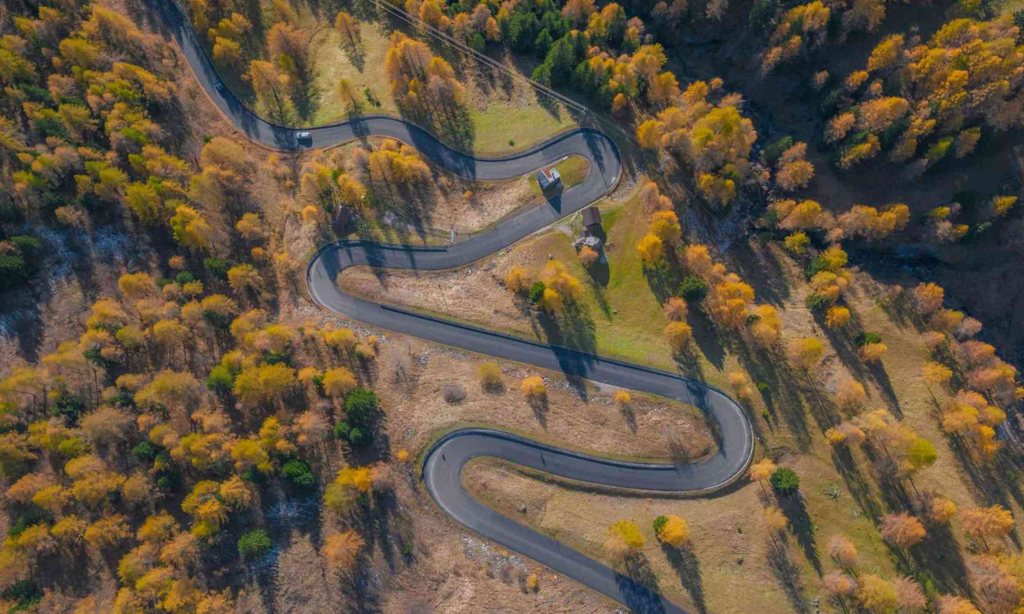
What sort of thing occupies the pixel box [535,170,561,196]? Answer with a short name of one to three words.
shed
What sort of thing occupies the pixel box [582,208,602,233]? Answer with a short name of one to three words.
barn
